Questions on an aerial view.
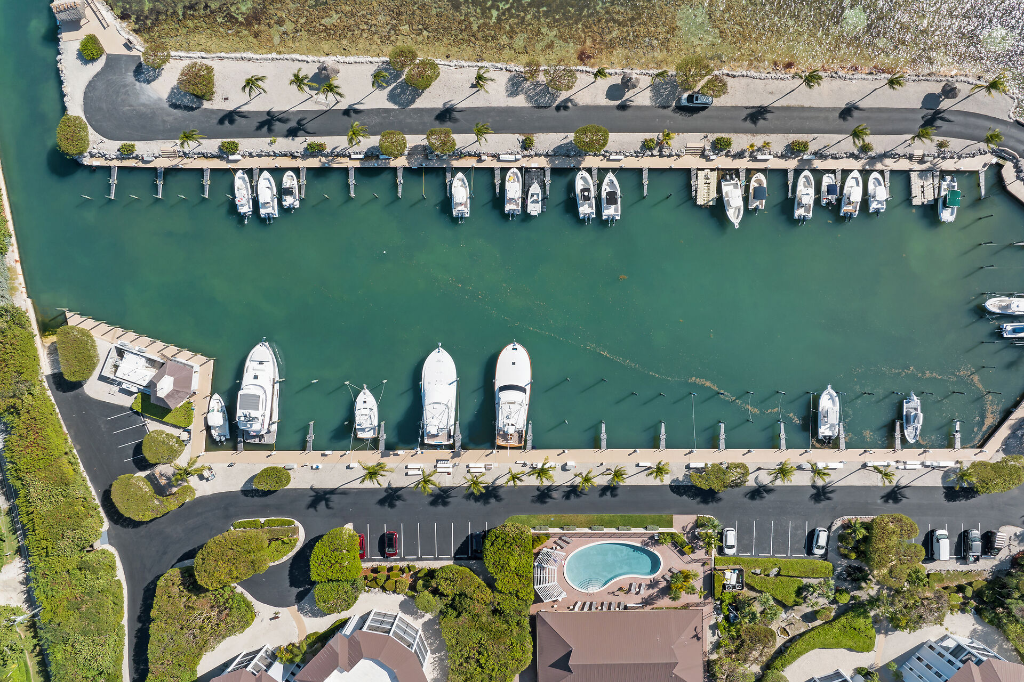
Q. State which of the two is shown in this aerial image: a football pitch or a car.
car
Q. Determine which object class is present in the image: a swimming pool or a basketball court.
swimming pool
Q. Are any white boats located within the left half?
Yes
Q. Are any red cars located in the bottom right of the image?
No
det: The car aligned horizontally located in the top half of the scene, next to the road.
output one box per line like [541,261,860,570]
[681,93,711,108]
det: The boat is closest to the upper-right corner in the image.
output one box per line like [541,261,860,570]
[938,177,960,221]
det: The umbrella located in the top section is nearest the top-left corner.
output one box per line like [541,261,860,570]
[317,59,338,80]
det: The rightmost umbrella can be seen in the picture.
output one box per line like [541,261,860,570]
[938,81,957,101]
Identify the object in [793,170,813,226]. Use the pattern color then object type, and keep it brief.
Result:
white boat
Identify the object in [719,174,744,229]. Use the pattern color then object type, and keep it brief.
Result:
white boat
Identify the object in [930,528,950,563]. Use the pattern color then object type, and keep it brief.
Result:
white vehicle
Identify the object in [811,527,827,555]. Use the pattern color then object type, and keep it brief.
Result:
white car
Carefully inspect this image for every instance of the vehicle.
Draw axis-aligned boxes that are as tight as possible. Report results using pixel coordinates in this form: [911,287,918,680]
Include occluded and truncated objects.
[962,528,981,564]
[202,466,219,479]
[985,529,1006,557]
[356,531,368,558]
[930,528,950,563]
[384,529,398,558]
[722,526,736,554]
[471,530,485,558]
[811,527,827,555]
[681,93,711,108]
[180,427,193,442]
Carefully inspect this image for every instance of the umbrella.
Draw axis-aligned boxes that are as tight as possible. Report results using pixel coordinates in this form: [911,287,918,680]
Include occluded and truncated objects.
[619,71,640,92]
[938,81,957,101]
[317,59,338,80]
